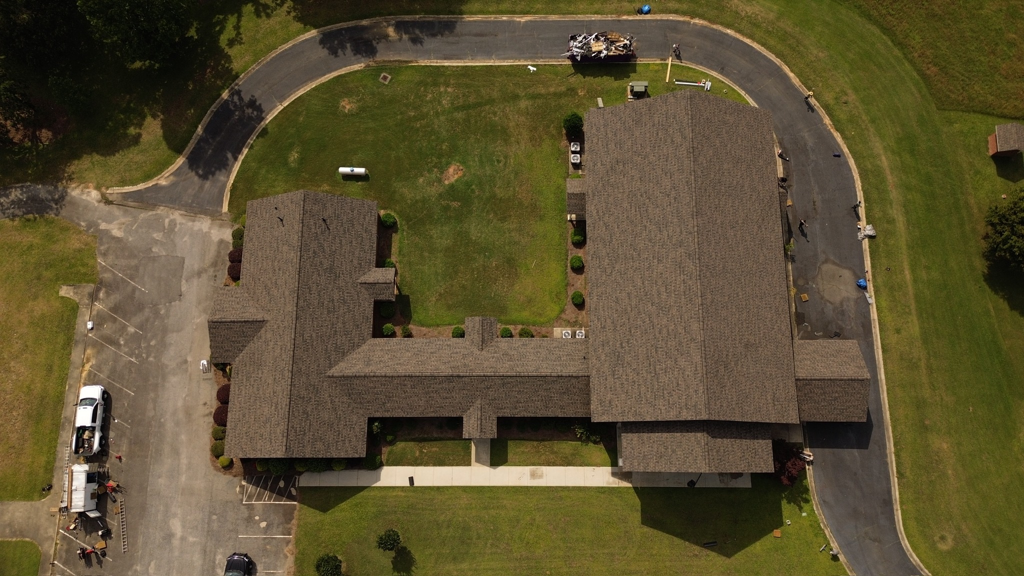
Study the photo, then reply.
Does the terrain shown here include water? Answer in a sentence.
No, the picture contains no water.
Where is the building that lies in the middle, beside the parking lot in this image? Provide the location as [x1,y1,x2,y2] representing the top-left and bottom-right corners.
[205,85,871,472]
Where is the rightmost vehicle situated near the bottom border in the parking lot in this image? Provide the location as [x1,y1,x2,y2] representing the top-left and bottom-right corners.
[218,552,250,576]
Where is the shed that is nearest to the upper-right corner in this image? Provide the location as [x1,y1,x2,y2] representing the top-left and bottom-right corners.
[984,119,1024,159]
